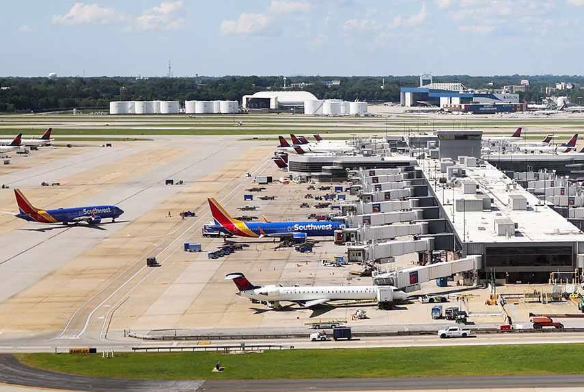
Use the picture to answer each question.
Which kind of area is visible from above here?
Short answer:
airport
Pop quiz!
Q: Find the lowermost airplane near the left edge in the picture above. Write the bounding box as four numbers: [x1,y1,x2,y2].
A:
[14,186,123,225]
